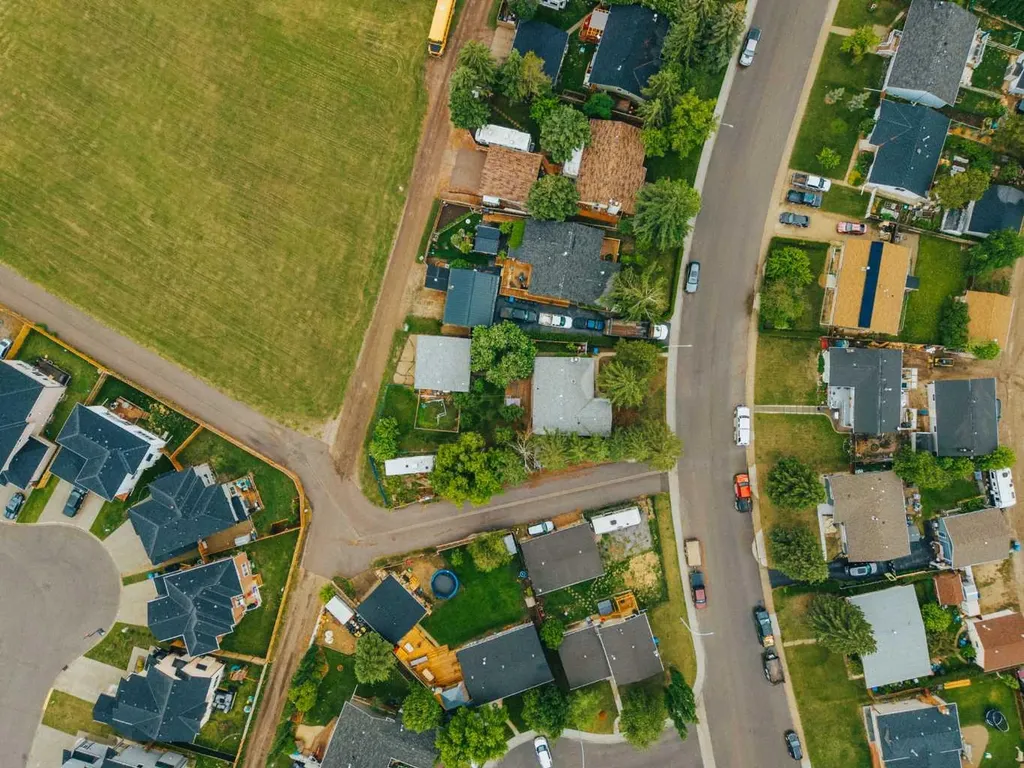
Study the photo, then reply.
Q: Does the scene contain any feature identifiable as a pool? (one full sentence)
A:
Yes, a pool can be made out from above.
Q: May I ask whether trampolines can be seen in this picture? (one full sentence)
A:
Yes, the image includes a trampoline.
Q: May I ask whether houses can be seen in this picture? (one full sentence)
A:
Yes, the picture does show a house.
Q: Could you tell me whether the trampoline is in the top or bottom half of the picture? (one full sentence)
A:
It is in the bottom half that the trampoline appears.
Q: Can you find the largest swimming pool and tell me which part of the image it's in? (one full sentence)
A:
Look in the bottom portion of the view to spot the largest swimming pool.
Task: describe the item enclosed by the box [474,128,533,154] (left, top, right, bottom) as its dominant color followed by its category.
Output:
white trailer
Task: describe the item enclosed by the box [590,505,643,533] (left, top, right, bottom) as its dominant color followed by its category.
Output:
white trailer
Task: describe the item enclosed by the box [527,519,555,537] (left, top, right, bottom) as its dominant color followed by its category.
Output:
white car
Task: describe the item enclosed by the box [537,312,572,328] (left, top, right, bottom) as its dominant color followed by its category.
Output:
white vehicle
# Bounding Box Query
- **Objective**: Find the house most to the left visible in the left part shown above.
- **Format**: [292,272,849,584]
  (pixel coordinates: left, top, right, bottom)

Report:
[0,360,62,490]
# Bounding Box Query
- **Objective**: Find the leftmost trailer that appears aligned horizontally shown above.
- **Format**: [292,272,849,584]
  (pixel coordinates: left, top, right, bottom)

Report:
[386,455,437,475]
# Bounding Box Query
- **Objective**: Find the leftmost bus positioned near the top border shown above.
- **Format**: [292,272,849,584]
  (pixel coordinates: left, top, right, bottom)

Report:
[425,0,459,64]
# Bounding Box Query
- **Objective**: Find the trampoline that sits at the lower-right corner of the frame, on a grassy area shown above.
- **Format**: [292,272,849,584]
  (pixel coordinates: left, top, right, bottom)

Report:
[982,705,1011,732]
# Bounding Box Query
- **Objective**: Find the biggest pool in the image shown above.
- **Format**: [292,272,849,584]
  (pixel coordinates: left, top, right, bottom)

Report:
[431,569,459,598]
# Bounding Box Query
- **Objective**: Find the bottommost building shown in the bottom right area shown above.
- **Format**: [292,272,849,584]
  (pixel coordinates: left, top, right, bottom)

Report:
[871,696,973,768]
